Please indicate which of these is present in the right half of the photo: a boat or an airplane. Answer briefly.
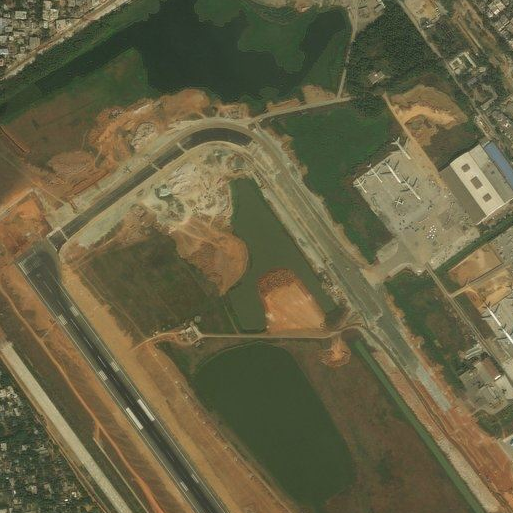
airplane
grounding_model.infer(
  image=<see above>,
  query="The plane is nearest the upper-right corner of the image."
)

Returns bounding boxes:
[392,138,411,159]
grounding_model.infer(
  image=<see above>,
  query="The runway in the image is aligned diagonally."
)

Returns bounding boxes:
[15,240,231,513]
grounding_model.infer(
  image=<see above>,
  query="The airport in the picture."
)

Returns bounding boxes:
[2,128,513,513]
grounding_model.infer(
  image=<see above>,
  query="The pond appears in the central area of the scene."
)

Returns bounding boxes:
[225,178,336,333]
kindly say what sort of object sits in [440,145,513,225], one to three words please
hangar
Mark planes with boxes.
[368,165,383,182]
[392,138,411,159]
[382,159,401,182]
[482,303,502,327]
[498,326,513,348]
[399,173,421,199]
[354,176,368,193]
